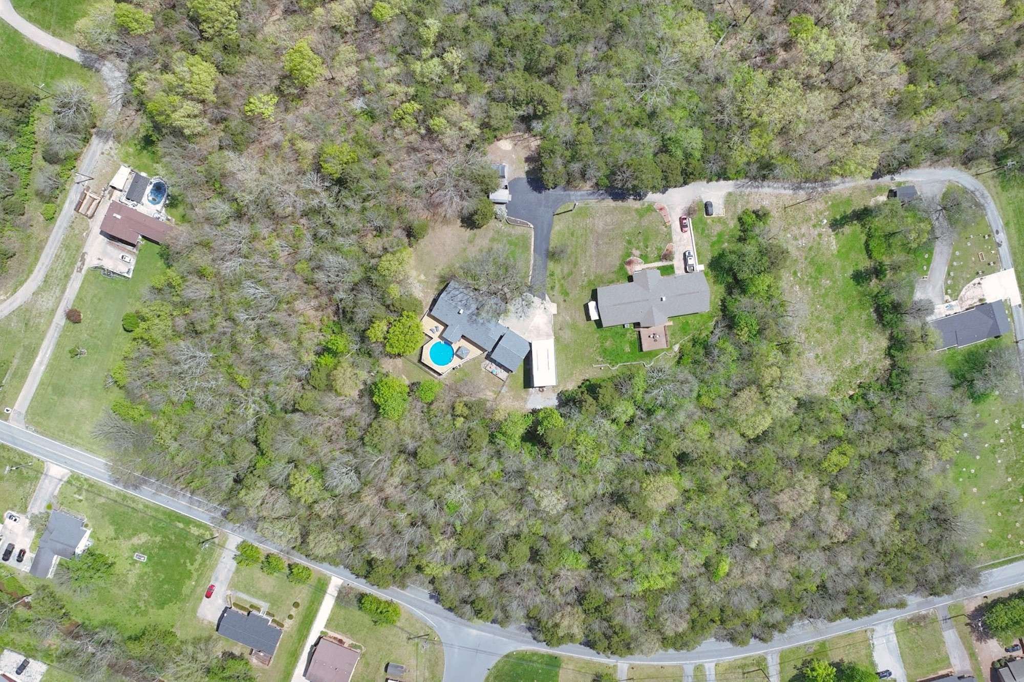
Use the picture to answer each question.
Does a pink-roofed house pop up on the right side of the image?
No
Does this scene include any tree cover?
Yes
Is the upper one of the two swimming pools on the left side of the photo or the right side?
left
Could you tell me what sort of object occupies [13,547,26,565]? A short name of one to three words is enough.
vehicle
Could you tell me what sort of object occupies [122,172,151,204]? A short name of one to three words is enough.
building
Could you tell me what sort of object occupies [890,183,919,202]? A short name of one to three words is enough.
shed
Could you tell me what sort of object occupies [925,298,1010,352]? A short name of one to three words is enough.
house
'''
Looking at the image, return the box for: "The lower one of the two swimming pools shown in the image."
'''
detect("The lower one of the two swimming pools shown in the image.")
[429,340,454,366]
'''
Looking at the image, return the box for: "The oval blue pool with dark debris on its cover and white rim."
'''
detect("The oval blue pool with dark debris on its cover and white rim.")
[146,178,169,205]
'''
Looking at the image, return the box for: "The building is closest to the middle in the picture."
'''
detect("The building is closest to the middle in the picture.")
[491,330,531,372]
